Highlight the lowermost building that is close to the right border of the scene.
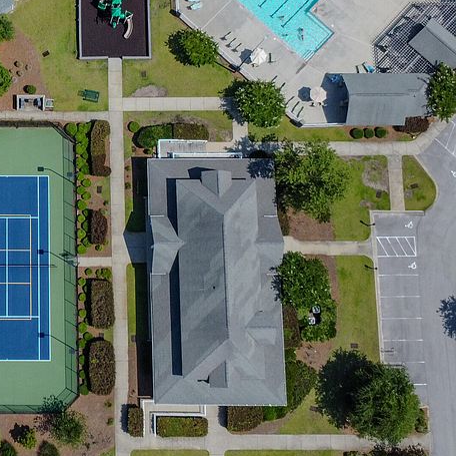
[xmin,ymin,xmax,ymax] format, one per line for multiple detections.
[333,74,456,127]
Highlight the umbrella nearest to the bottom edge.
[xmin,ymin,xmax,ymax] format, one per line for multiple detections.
[308,85,327,104]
